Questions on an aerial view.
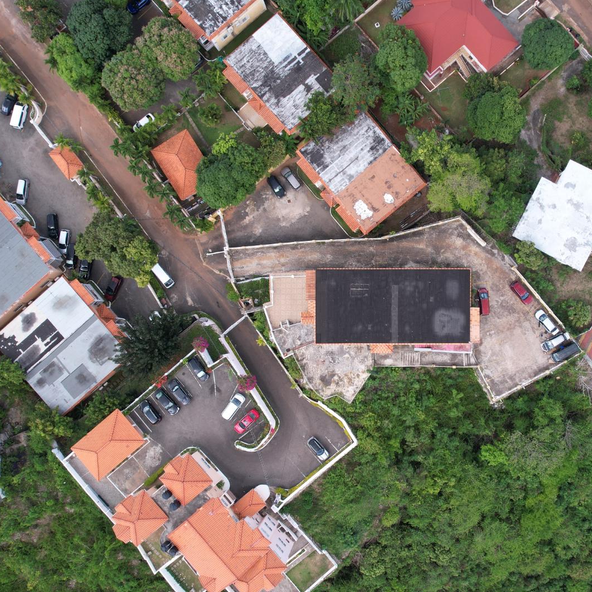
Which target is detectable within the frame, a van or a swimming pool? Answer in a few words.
van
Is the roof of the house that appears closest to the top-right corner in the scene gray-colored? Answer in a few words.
No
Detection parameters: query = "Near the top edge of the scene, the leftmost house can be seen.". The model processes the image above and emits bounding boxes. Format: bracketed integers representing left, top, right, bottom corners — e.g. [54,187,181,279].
[154,0,267,60]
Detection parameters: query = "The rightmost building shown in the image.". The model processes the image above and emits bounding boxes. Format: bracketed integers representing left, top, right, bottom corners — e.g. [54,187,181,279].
[512,159,592,270]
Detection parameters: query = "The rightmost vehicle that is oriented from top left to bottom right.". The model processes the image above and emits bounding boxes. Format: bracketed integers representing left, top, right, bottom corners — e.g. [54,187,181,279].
[533,305,560,337]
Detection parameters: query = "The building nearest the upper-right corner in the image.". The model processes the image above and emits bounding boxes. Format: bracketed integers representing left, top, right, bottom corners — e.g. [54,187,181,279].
[398,0,521,92]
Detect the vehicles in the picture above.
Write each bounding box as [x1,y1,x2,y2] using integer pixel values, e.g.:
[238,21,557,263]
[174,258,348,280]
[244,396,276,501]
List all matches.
[55,227,74,259]
[539,332,570,353]
[266,173,287,202]
[154,387,179,418]
[509,278,533,307]
[79,254,93,285]
[139,396,163,427]
[45,211,61,242]
[14,176,33,207]
[221,391,248,423]
[232,408,263,434]
[0,88,22,121]
[280,163,302,193]
[133,111,160,134]
[142,305,173,324]
[549,342,580,365]
[533,305,560,337]
[149,259,178,292]
[305,432,330,464]
[187,353,212,383]
[65,242,80,272]
[167,376,192,407]
[9,100,30,135]
[477,287,492,317]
